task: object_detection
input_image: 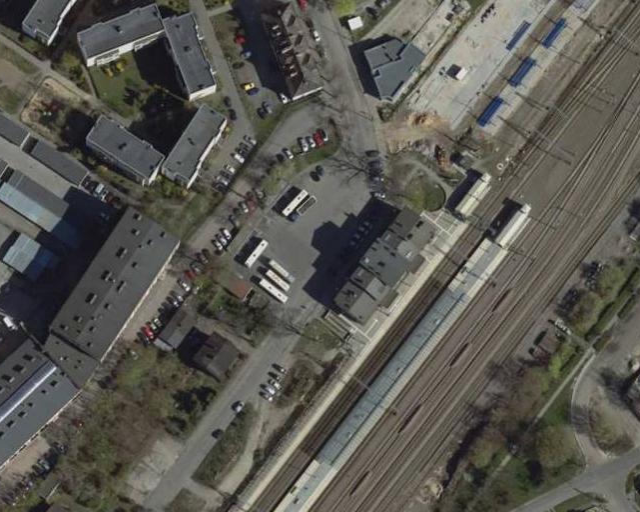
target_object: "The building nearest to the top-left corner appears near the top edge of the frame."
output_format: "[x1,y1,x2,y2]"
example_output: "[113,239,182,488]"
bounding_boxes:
[23,0,77,43]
